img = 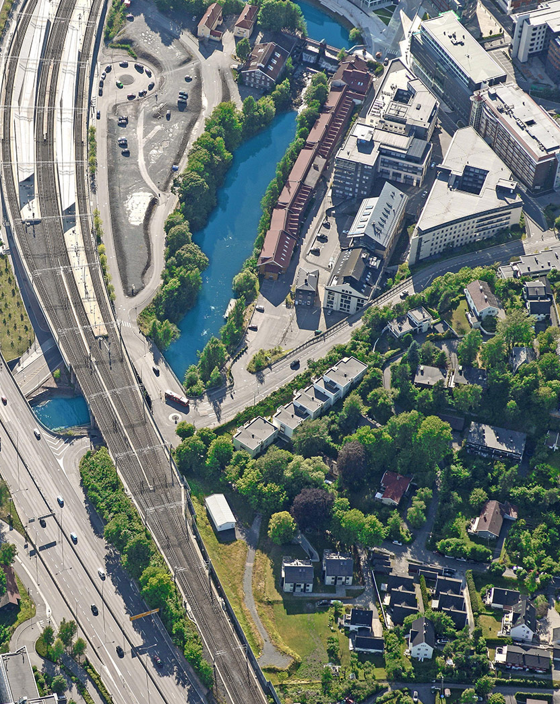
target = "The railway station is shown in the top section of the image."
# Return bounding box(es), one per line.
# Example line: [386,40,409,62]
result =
[14,0,108,339]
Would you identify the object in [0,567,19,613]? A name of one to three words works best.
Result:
shed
